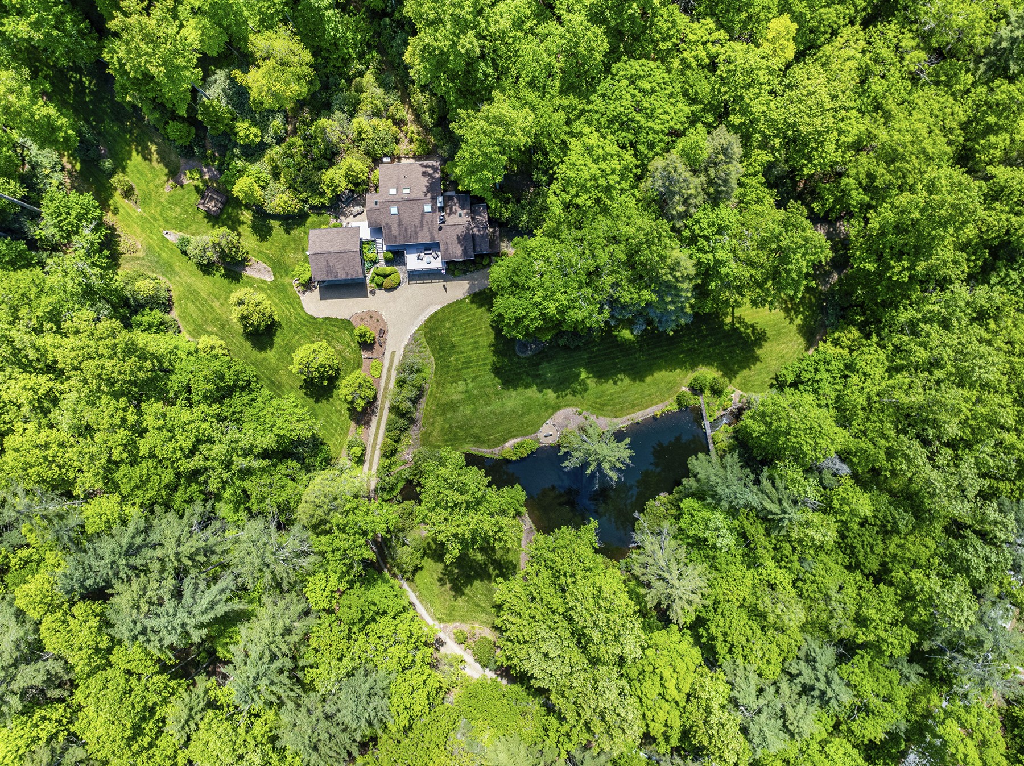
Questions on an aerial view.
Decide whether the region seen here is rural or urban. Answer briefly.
rural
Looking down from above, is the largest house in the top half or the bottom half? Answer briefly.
top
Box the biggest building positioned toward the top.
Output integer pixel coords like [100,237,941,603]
[343,161,500,271]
